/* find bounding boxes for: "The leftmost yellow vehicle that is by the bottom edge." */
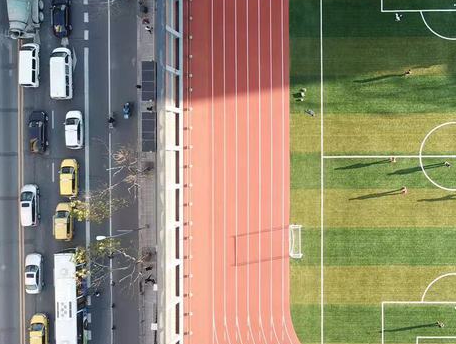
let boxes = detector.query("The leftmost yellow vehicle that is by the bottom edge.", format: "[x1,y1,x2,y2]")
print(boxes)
[28,314,48,344]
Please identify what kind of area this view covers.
sports ground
